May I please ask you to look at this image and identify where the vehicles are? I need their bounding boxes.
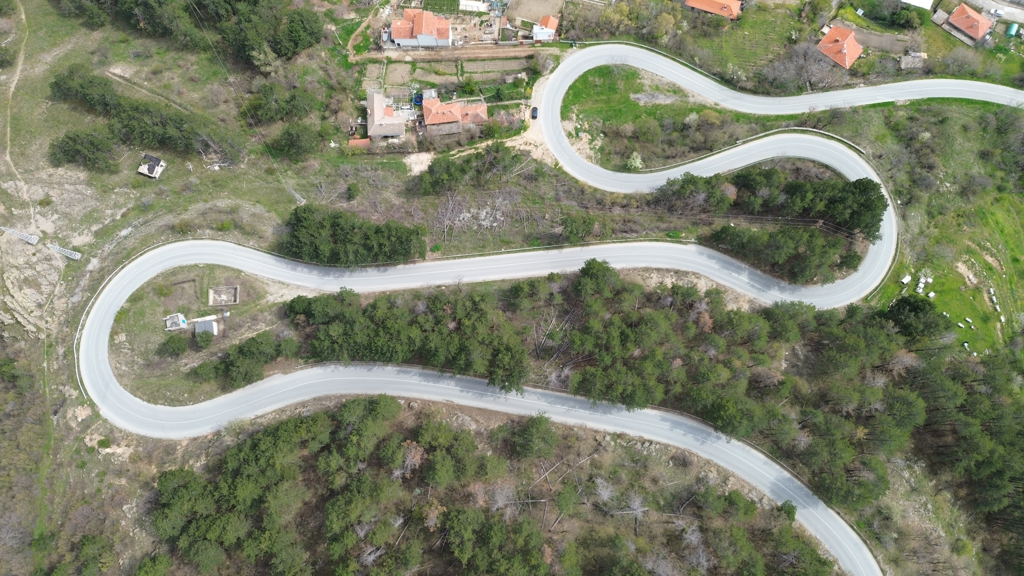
[532,107,537,118]
[389,32,394,42]
[990,10,1005,17]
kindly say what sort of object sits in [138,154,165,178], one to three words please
shed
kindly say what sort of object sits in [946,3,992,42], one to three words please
house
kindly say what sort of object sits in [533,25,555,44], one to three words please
shed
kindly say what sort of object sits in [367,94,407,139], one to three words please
house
